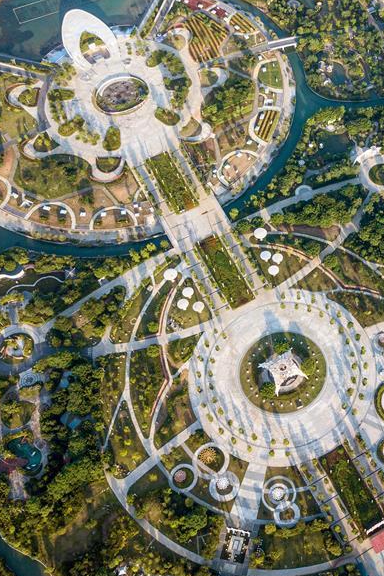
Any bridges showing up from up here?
Yes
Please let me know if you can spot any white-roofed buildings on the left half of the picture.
Yes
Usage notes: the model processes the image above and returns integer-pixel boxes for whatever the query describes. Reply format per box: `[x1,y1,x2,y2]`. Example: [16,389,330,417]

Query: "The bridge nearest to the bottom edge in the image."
[166,196,235,255]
